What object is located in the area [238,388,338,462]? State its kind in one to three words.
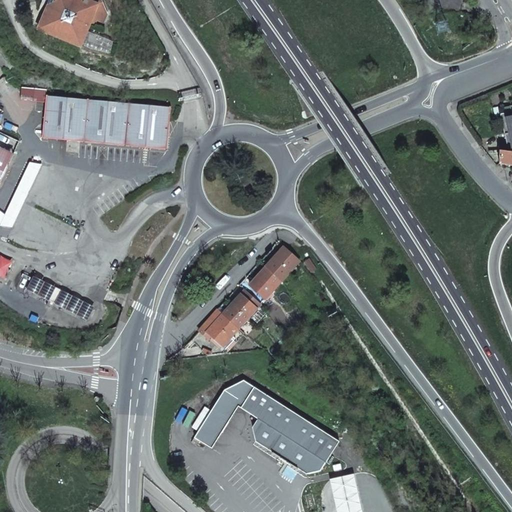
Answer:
building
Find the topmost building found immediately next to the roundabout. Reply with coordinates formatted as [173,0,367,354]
[40,95,170,153]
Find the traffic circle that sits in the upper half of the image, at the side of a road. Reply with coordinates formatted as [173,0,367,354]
[183,123,297,234]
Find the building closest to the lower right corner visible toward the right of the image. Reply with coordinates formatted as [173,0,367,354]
[328,474,364,512]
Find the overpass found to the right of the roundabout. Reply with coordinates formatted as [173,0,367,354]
[291,62,392,190]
